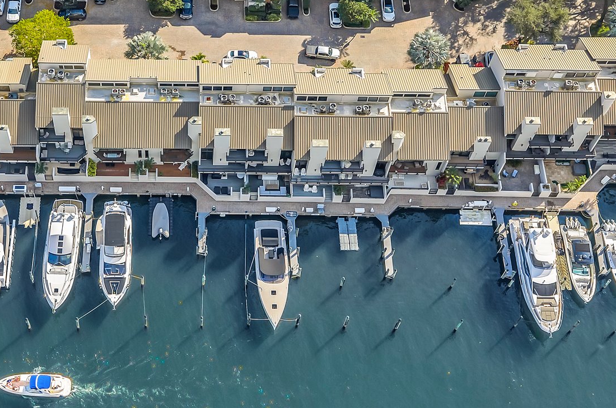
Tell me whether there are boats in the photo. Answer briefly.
Yes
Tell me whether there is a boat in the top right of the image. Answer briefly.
No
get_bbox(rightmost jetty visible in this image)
[582,212,613,278]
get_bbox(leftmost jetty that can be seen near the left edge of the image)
[19,198,40,226]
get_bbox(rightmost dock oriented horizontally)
[459,211,493,226]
